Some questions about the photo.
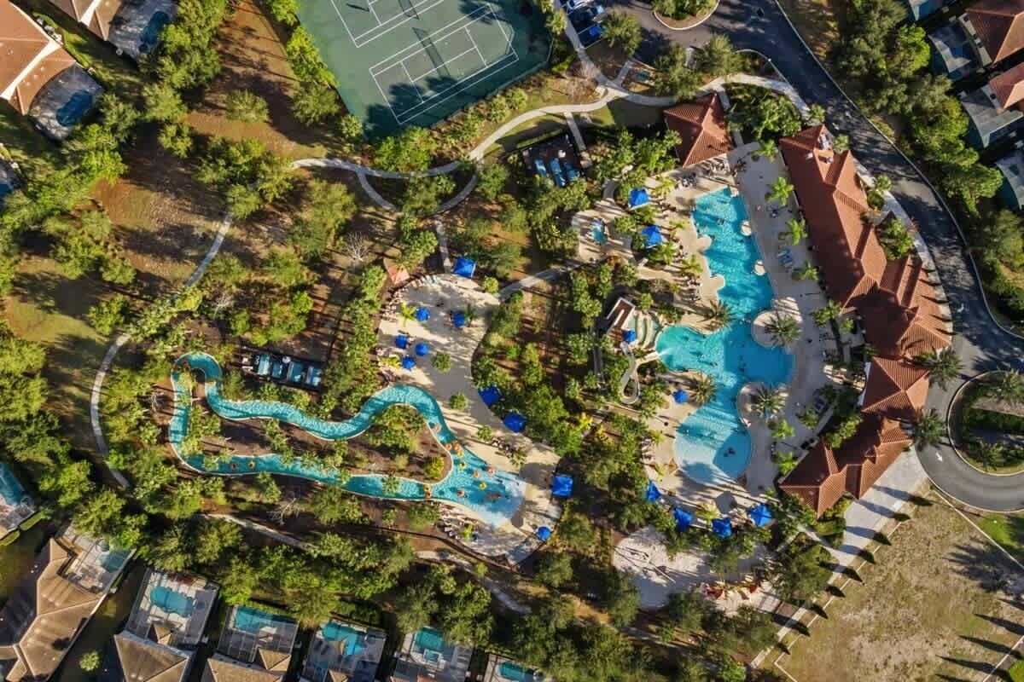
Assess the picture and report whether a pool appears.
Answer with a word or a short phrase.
Yes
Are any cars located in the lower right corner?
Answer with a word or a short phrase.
No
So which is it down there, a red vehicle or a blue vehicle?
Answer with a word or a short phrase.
blue vehicle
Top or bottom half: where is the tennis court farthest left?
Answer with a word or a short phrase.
top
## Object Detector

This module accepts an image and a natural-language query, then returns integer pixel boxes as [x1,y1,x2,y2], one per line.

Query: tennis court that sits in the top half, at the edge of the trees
[300,0,552,139]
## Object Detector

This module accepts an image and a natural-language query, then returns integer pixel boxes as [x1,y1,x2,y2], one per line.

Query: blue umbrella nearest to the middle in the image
[453,312,466,326]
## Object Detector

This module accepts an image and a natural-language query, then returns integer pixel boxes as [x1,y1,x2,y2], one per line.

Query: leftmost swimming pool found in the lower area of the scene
[0,463,24,504]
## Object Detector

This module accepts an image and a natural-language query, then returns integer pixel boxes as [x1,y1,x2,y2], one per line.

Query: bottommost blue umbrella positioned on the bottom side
[536,526,551,540]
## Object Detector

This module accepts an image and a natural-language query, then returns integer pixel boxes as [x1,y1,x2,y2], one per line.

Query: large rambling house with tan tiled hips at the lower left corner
[0,539,109,682]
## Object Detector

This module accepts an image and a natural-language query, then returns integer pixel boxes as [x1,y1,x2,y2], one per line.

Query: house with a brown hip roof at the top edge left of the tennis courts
[49,0,132,42]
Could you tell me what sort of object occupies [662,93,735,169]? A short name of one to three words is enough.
building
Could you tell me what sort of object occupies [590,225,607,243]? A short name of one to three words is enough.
swimming pool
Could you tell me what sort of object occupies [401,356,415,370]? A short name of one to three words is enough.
umbrella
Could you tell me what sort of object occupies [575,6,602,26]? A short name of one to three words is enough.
car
